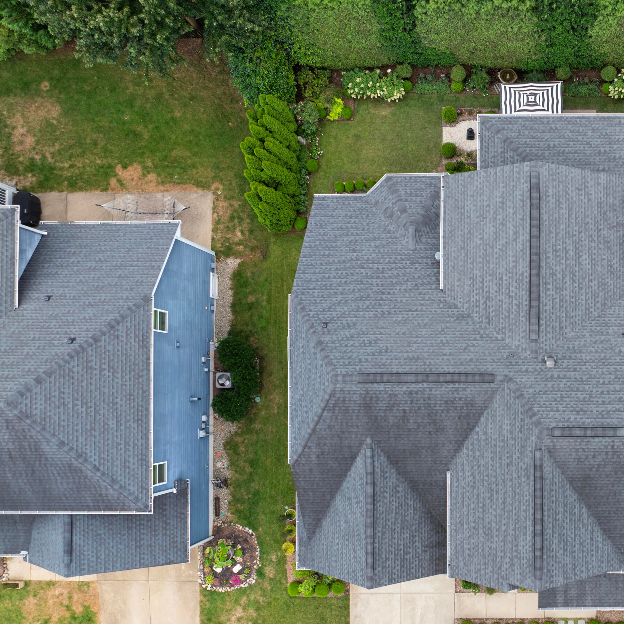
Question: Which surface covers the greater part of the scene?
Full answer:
The scene is dominated by buildings.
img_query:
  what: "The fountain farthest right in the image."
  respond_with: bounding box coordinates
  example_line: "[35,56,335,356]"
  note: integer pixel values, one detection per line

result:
[501,67,517,83]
